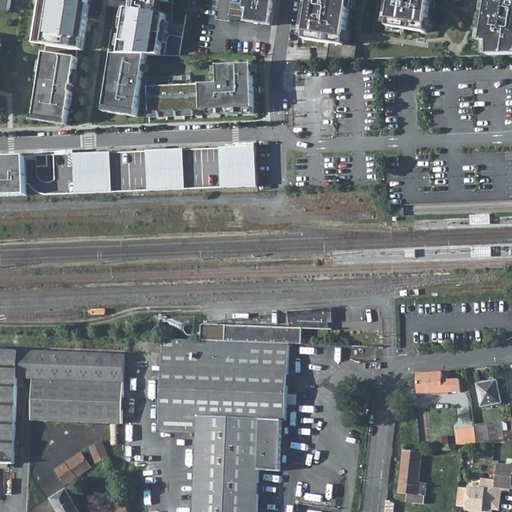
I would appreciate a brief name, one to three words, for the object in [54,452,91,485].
barn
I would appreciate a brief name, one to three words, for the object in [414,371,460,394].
house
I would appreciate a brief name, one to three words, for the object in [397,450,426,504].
house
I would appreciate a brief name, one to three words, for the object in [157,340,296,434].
building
